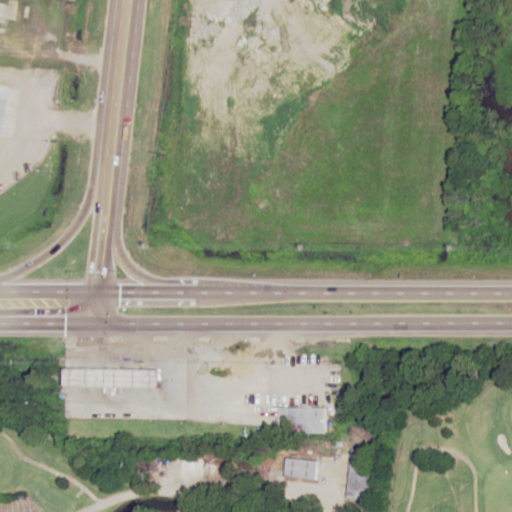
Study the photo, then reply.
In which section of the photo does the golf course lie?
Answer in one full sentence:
The golf course is located in the bottom right region of the scene.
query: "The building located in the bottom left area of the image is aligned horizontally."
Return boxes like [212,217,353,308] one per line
[60,368,156,388]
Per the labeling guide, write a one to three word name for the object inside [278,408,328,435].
building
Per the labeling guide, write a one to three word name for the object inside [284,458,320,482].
shed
